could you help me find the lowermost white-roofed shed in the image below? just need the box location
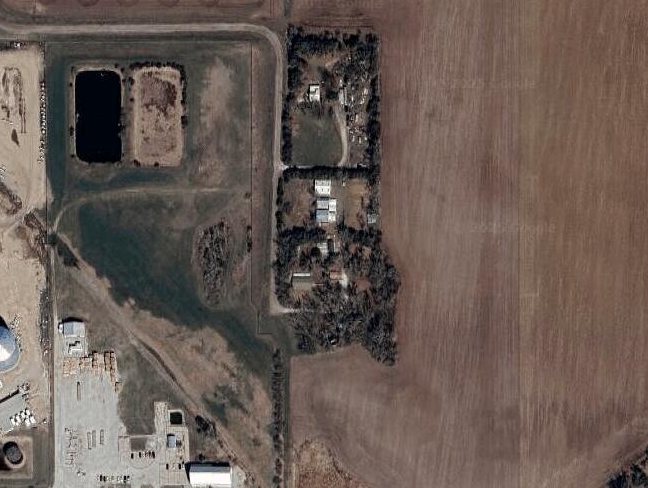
[189,465,232,487]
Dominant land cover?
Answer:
farmland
